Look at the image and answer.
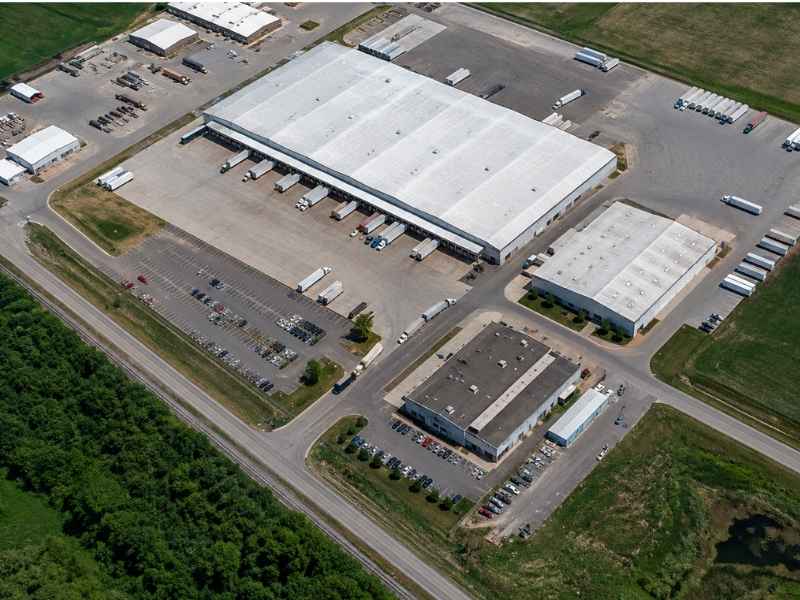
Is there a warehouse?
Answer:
Yes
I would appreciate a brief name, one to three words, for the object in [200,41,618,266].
warehouse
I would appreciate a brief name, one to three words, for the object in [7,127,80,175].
building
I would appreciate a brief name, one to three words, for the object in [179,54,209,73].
vehicle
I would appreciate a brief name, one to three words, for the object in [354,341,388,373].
truck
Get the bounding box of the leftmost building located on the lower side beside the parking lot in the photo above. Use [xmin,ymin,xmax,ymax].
[402,320,581,462]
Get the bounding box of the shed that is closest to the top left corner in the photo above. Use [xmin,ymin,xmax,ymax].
[11,84,43,104]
